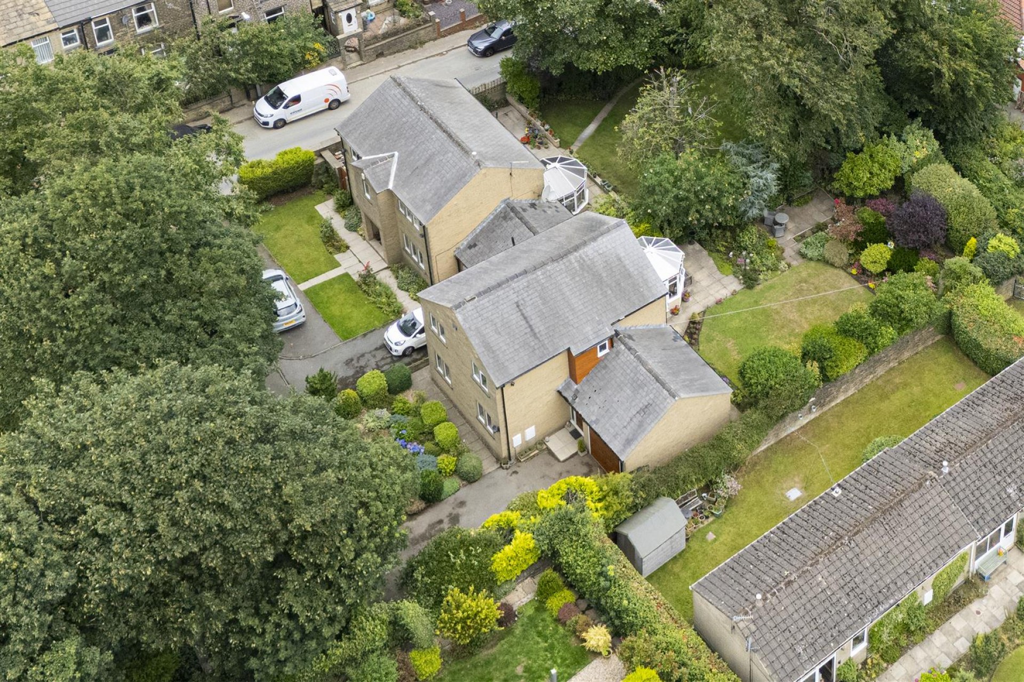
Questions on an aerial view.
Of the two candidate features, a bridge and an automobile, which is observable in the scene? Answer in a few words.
automobile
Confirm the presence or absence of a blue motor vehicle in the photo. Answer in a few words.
No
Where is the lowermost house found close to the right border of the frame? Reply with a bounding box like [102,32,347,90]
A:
[690,343,1024,682]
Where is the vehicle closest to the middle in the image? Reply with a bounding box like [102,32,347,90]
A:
[383,301,427,351]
